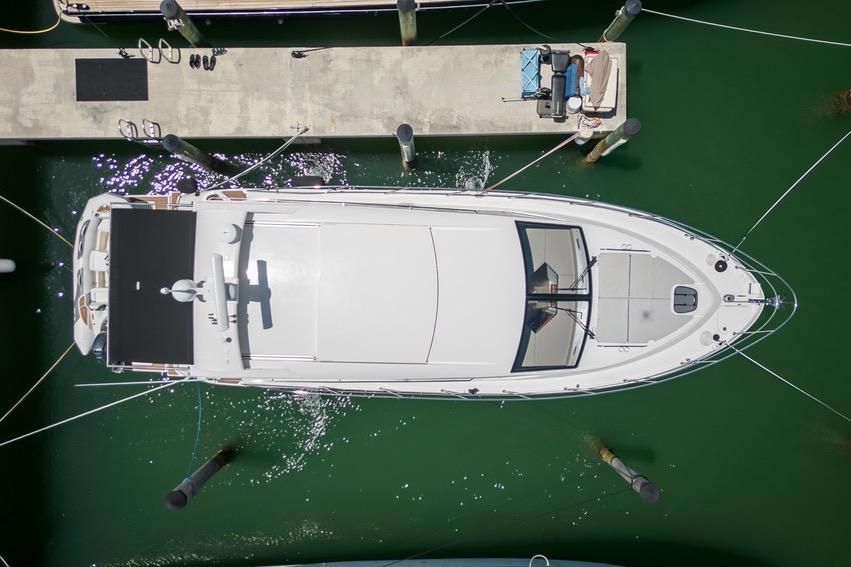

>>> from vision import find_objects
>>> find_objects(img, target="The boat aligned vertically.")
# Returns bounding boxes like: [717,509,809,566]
[71,191,134,357]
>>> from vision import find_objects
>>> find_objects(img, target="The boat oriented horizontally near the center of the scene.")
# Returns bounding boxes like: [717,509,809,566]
[76,186,797,402]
